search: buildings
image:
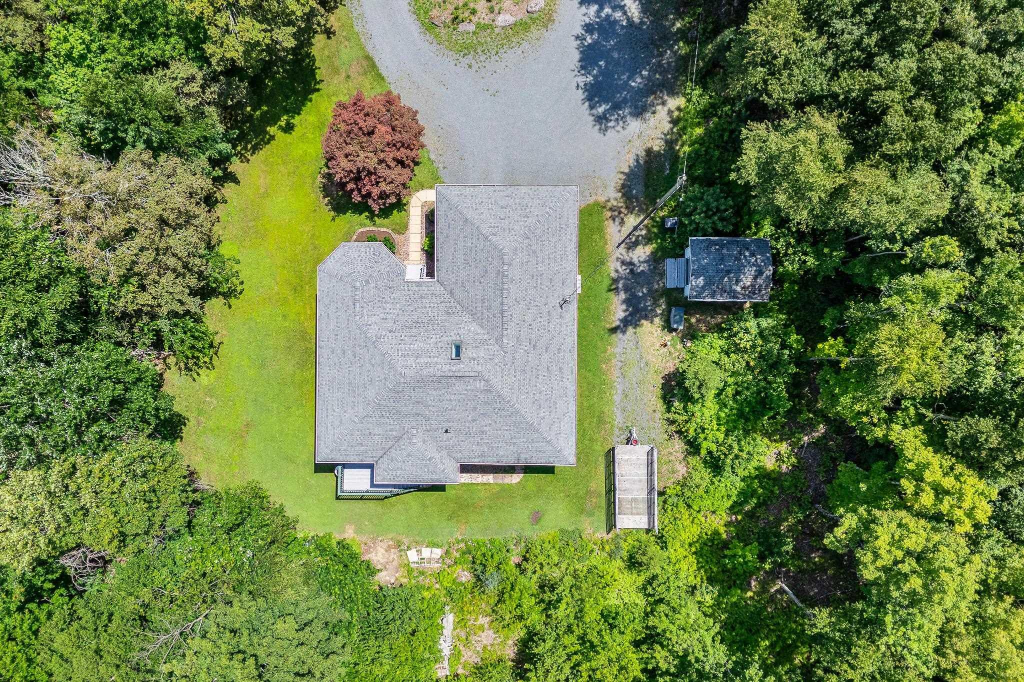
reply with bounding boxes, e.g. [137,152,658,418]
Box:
[685,237,775,302]
[314,183,581,486]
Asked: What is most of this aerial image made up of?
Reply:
trees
